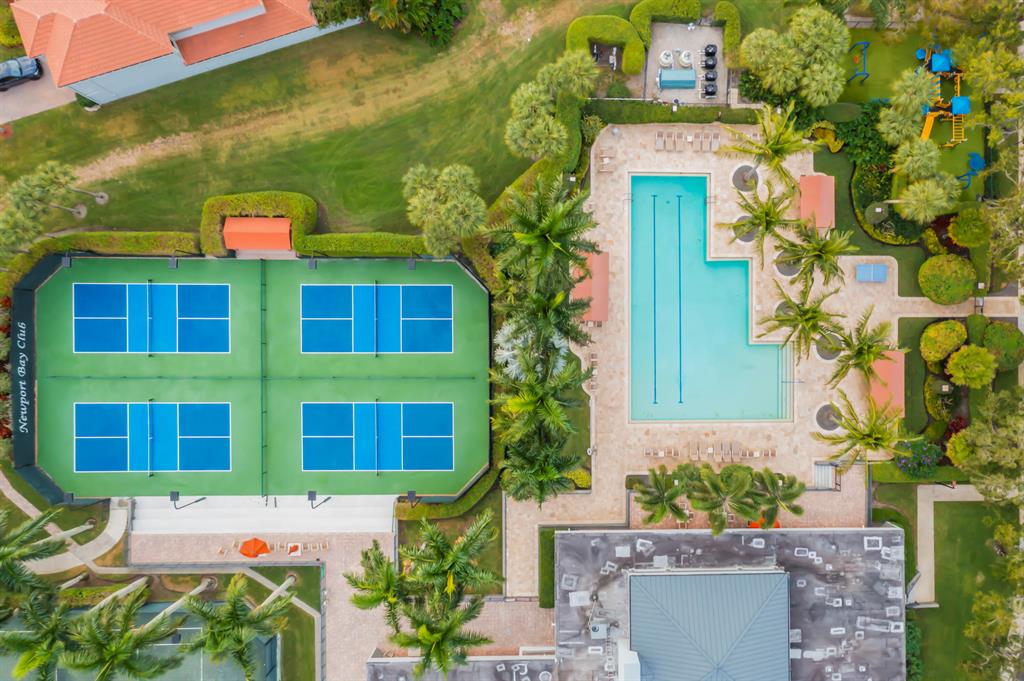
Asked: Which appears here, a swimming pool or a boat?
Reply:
swimming pool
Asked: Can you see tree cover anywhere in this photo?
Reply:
Yes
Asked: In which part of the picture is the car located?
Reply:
top left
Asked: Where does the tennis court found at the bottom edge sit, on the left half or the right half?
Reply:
left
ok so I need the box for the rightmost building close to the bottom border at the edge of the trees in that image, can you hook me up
[556,530,905,681]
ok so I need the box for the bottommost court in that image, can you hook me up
[0,604,276,681]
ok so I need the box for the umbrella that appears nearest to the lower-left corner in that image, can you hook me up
[242,532,270,560]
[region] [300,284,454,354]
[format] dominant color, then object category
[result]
blue sports court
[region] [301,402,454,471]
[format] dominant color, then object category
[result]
blue sports court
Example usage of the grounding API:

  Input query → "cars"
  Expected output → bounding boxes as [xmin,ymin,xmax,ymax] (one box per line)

[0,51,41,88]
